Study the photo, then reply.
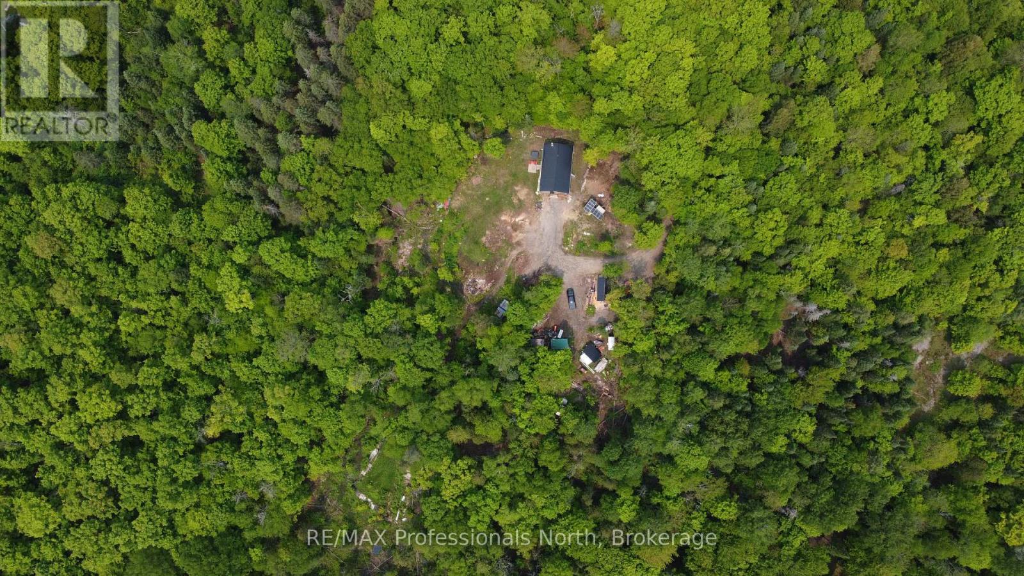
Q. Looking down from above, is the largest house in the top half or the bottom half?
top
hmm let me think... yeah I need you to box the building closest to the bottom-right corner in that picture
[578,343,603,364]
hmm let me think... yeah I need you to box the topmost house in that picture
[537,143,575,205]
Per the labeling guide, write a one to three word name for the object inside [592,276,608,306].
shed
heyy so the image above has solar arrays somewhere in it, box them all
[591,206,605,219]
[584,198,598,213]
